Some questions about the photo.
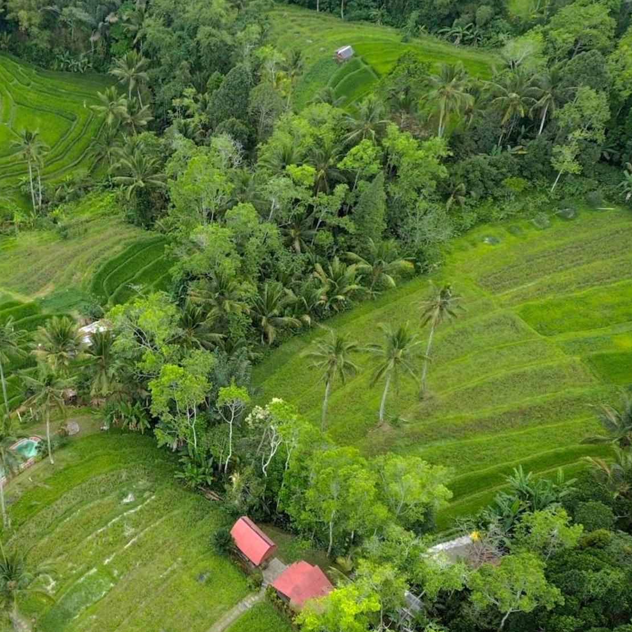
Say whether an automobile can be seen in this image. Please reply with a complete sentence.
No, I can't see a single automobile in this photo.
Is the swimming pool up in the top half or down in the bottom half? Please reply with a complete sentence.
The swimming pool sits in the bottom half of the picture.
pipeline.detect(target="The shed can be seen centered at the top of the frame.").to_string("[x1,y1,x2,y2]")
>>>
[330,48,356,67]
